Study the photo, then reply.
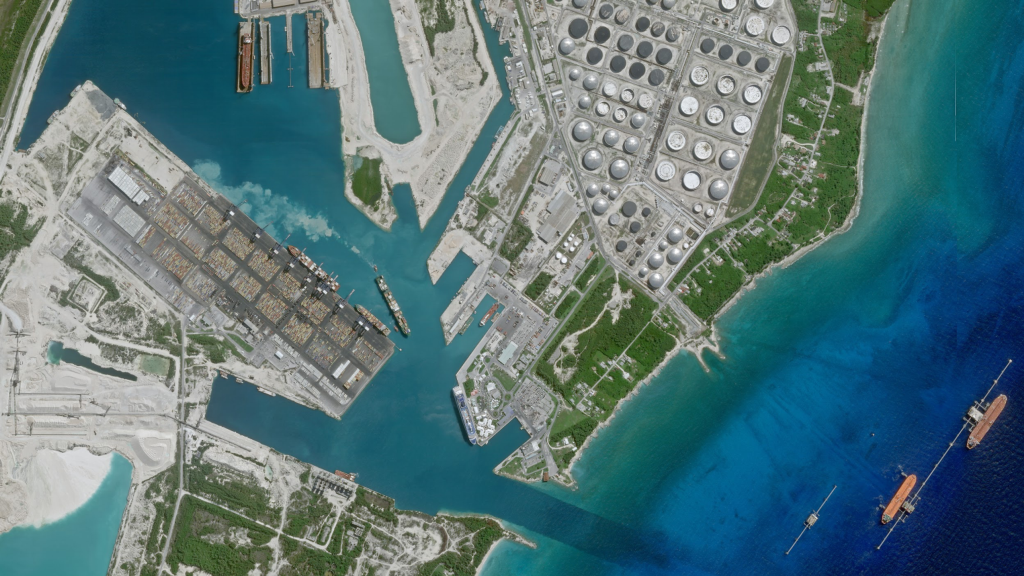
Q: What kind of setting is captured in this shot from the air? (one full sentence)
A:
This image shows a port.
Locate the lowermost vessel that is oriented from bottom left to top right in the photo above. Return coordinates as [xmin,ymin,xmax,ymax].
[882,474,916,525]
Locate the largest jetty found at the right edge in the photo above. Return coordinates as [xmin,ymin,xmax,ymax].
[877,359,1012,550]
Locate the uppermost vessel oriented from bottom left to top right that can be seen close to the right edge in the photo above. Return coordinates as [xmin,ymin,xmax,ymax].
[968,395,1007,450]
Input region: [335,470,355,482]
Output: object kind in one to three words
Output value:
ship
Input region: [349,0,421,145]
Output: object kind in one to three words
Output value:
pond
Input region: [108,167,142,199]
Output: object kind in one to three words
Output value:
building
